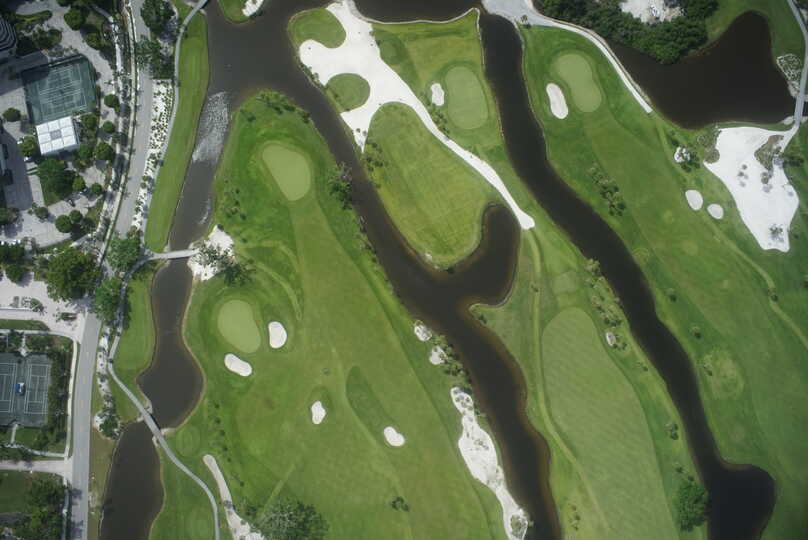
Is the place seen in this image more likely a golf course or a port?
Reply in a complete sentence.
It's a golf course.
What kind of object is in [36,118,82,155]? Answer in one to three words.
building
